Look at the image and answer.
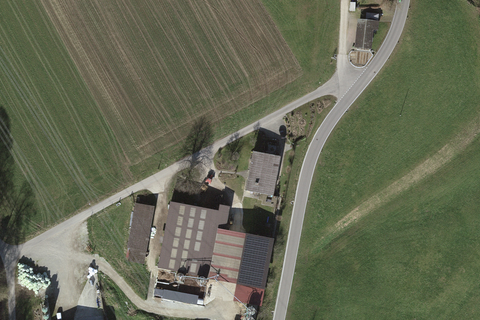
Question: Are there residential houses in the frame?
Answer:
Yes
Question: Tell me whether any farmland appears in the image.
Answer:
Yes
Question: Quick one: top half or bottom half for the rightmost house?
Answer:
top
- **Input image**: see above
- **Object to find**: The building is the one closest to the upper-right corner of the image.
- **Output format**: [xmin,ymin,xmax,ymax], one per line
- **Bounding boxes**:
[355,19,380,50]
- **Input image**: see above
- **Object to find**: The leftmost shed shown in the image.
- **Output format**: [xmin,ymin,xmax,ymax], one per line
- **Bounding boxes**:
[129,204,156,264]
